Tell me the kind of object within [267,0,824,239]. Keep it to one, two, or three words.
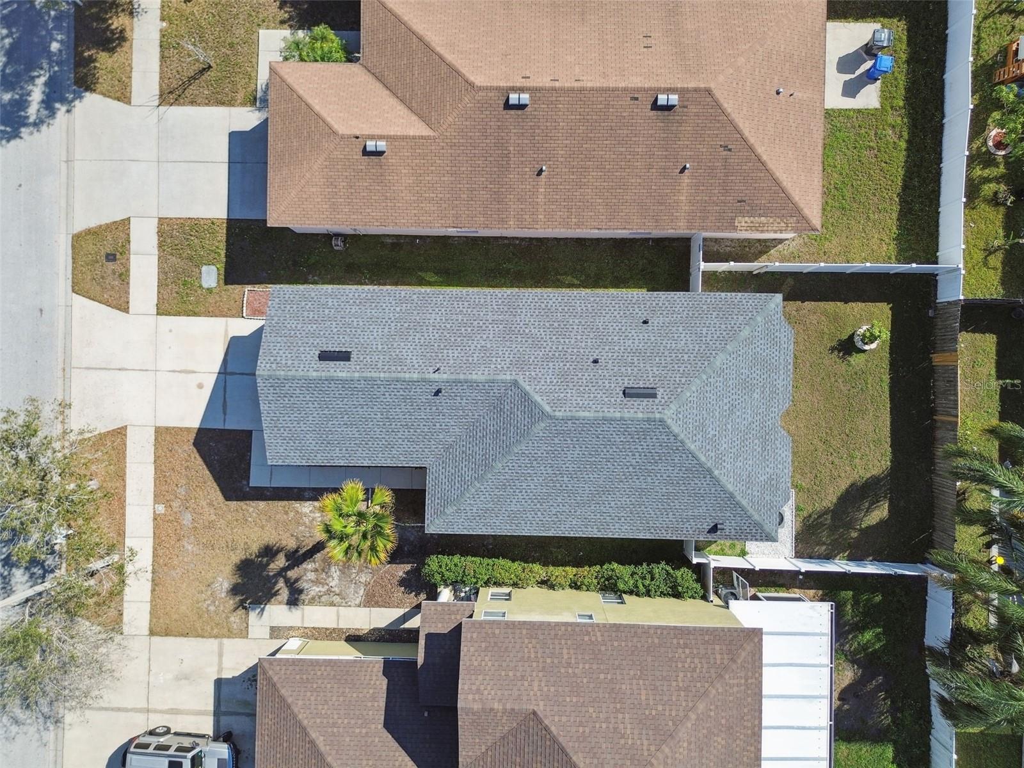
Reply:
house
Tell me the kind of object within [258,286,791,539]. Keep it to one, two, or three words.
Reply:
house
